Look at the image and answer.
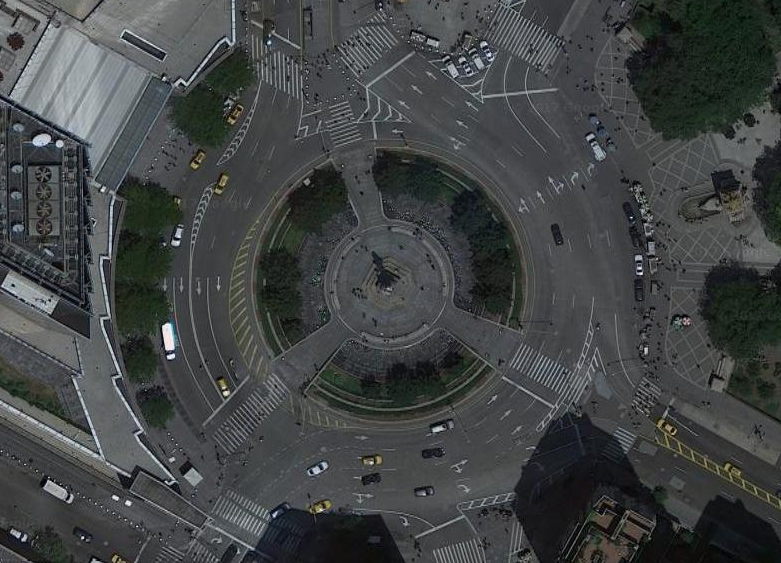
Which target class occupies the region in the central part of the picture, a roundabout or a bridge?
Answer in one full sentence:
It is a roundabout that can be seen in the central part of the picture.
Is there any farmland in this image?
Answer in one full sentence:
No, the picture contains no farmland.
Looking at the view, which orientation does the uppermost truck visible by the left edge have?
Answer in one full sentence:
In this picture, the uppermost truck visible by the left edge lies at an angle.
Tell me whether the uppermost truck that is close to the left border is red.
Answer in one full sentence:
No, the color of the uppermost truck that is close to the left border is white.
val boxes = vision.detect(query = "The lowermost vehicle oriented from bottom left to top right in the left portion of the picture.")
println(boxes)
[219,540,241,563]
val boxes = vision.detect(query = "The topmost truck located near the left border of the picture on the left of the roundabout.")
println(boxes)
[37,474,76,507]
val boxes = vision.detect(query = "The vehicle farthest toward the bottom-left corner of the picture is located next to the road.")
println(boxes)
[7,526,30,545]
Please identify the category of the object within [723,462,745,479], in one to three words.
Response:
car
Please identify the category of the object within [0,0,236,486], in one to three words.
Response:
building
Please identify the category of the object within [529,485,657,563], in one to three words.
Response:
building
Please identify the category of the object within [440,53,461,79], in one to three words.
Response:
vehicle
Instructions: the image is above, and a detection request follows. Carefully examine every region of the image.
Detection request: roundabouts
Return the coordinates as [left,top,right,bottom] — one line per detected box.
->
[182,77,599,493]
